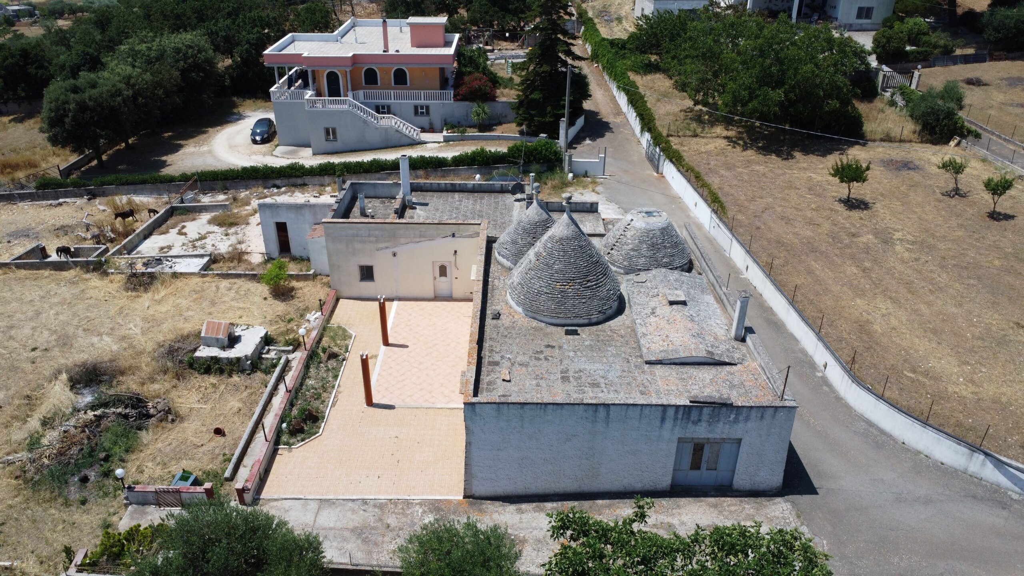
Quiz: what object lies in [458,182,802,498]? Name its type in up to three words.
building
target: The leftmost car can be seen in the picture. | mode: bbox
[241,110,277,140]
